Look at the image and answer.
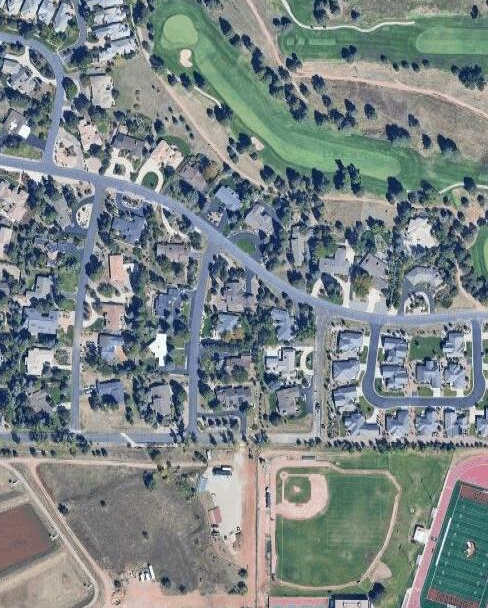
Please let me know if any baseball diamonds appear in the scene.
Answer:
Yes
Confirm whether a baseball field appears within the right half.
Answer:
Yes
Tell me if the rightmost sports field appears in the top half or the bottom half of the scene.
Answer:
bottom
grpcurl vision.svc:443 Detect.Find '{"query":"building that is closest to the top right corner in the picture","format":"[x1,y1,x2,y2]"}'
[405,217,438,251]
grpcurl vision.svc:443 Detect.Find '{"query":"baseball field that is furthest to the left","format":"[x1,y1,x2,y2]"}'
[272,460,403,591]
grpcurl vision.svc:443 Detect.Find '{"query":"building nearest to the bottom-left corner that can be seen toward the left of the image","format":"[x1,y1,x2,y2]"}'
[26,390,52,415]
